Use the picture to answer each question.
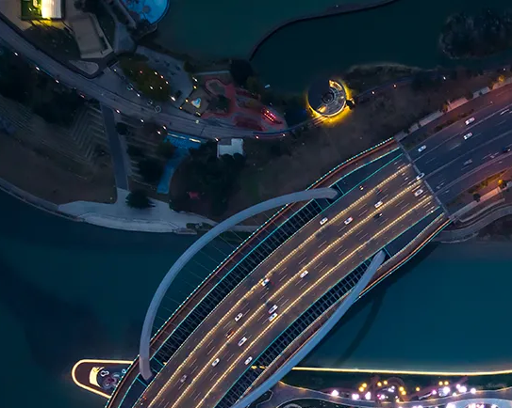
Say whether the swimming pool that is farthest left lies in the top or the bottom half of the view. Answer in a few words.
top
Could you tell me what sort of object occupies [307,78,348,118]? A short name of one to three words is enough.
building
